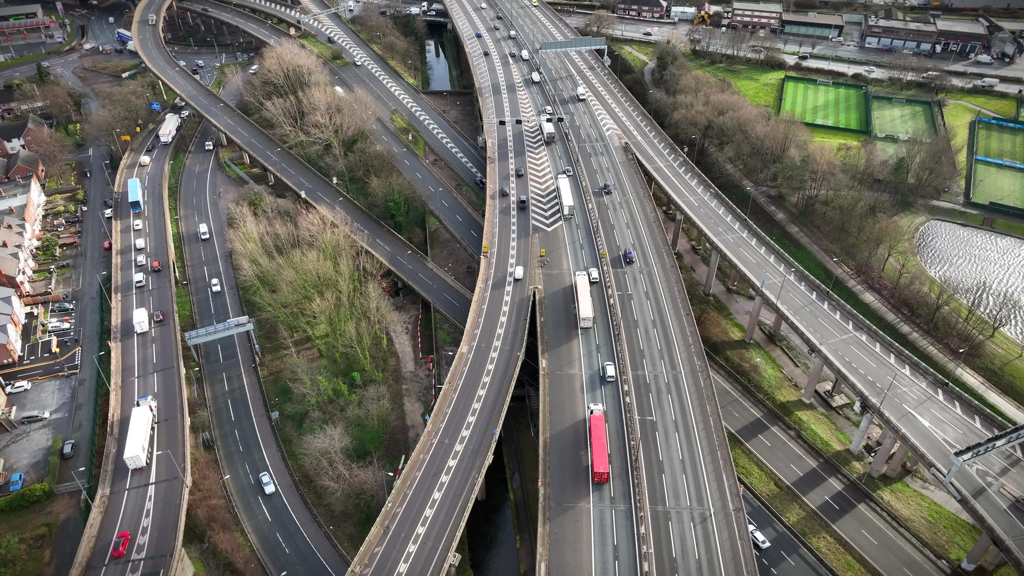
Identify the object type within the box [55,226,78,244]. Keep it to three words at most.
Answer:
building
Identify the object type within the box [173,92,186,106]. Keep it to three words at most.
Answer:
vehicle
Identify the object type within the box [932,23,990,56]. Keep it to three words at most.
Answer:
building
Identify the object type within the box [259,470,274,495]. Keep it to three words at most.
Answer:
car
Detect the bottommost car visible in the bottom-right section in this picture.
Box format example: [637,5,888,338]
[752,524,770,551]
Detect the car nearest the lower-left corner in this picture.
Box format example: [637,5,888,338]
[6,471,23,489]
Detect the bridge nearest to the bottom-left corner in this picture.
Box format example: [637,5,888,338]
[81,102,189,576]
